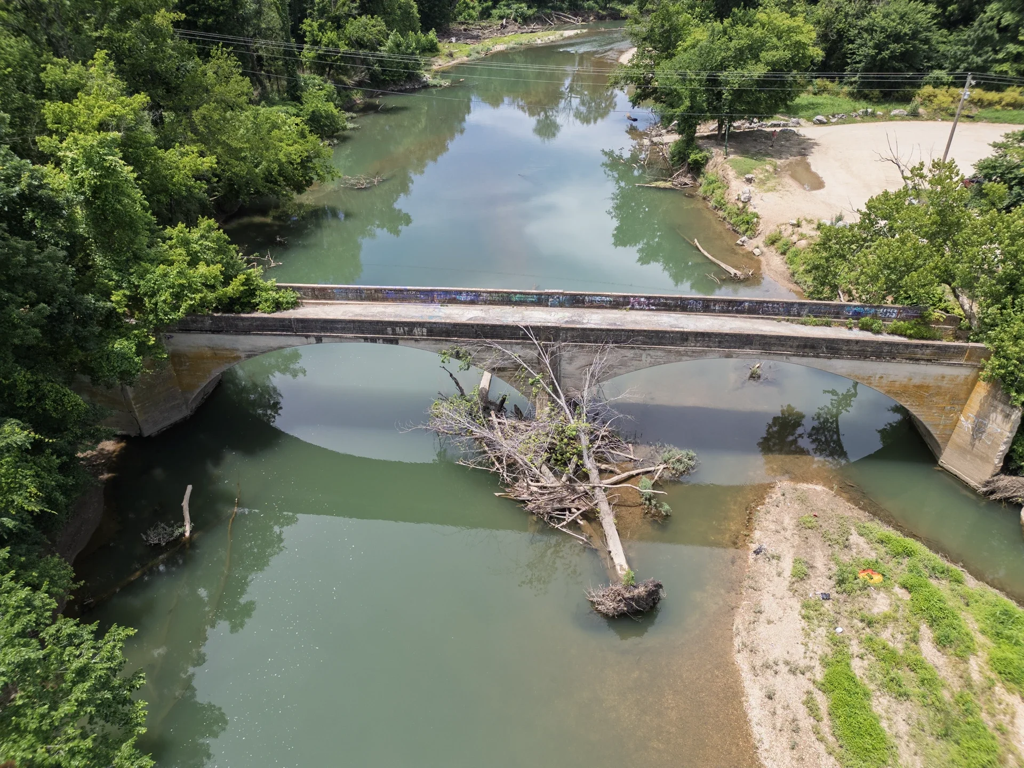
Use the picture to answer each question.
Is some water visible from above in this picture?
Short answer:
Yes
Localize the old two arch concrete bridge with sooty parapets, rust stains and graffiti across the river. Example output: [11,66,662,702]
[125,281,1024,485]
